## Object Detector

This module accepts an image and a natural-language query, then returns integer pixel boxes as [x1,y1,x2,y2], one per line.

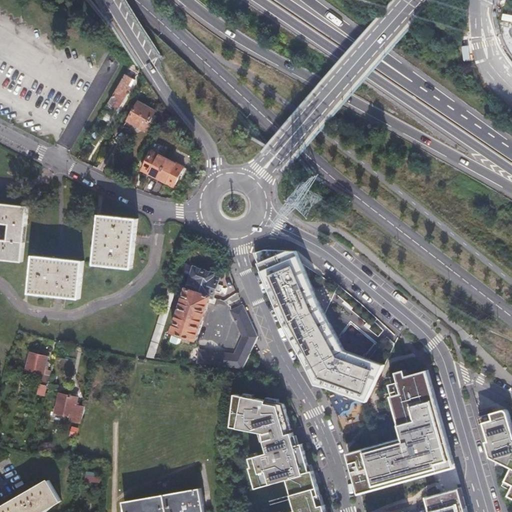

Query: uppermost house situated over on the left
[108,65,140,109]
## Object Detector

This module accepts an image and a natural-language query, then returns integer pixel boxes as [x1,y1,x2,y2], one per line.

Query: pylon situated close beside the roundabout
[276,180,327,230]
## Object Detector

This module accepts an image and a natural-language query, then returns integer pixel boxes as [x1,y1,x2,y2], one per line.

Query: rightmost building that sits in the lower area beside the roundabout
[252,250,388,402]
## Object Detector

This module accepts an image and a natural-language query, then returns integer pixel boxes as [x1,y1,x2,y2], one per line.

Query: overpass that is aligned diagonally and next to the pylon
[258,0,418,183]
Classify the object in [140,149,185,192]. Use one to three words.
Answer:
house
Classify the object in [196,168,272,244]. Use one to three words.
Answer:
roundabout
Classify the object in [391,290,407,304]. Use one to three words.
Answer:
vehicle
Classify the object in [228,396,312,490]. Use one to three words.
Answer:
building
